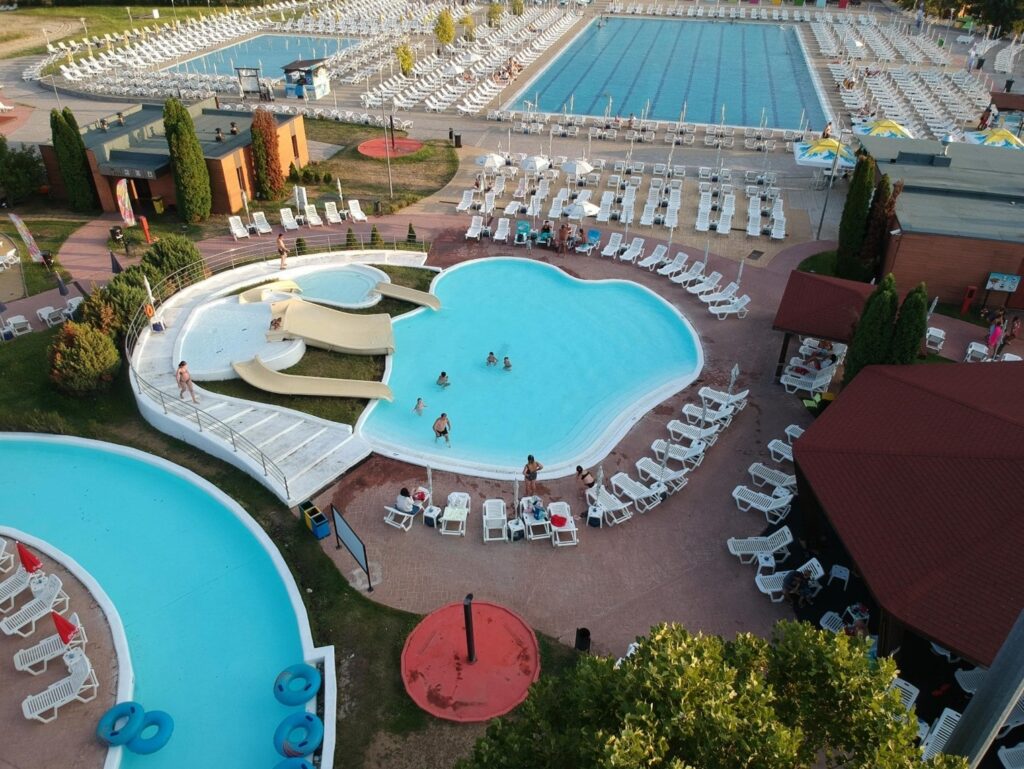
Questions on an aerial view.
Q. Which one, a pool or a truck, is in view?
pool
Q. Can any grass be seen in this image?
Yes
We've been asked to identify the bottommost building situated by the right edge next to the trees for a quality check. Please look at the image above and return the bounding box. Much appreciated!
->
[794,374,1024,691]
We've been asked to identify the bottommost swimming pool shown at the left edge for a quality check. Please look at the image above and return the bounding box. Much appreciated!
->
[0,438,306,769]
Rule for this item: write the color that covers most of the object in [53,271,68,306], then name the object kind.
black umbrella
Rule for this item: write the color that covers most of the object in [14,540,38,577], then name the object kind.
red umbrella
